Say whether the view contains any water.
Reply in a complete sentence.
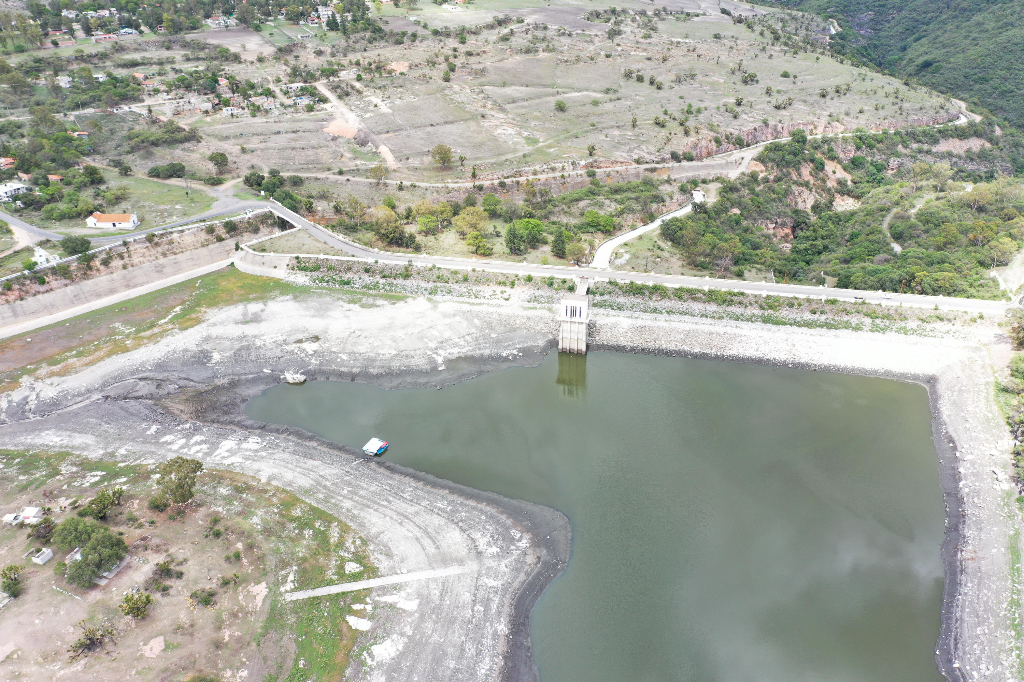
Yes, water can be seen from above here.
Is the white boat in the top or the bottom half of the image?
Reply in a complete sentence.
The bottom half of the photo is where the white boat is.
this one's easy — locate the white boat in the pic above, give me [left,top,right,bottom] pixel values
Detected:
[362,438,384,458]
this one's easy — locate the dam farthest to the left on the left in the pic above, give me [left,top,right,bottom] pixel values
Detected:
[0,260,236,341]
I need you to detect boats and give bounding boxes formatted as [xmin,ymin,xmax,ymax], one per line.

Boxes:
[362,438,384,458]
[379,442,392,455]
